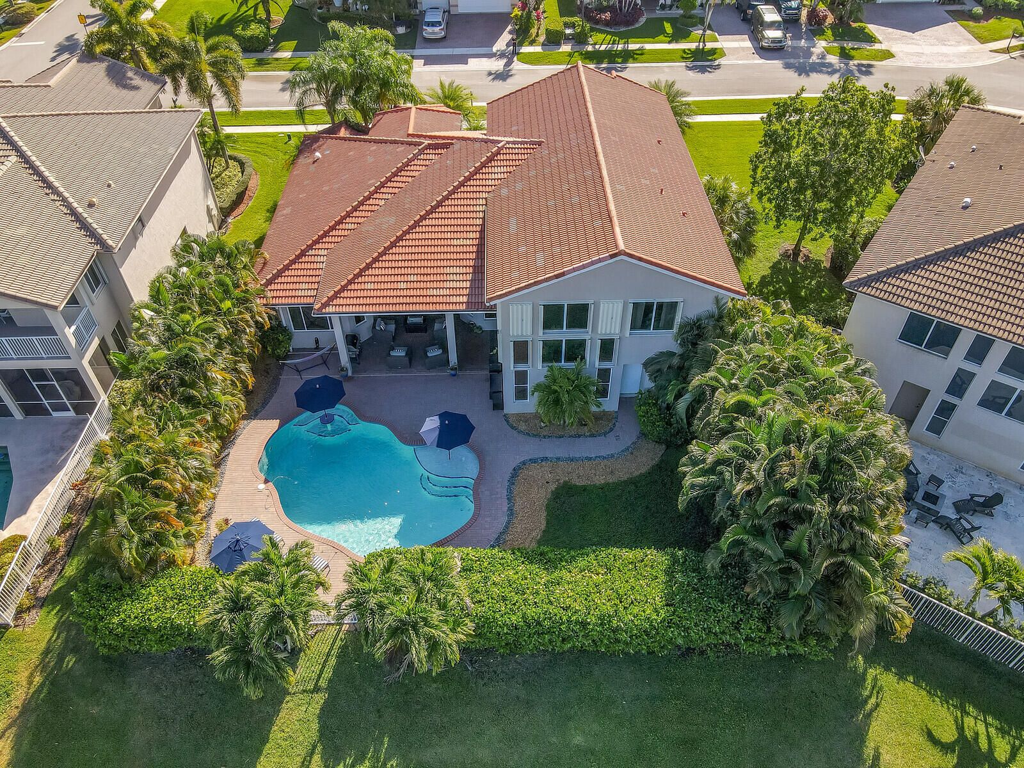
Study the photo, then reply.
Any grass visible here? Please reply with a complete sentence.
Yes, some grass is visible.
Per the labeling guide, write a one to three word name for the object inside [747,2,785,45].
car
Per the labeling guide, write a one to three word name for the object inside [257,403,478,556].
swimming pool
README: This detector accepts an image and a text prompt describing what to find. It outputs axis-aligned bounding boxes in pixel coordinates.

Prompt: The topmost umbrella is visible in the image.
[290,369,345,414]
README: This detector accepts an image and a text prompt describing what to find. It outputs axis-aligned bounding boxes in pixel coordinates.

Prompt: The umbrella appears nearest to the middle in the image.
[418,406,473,461]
